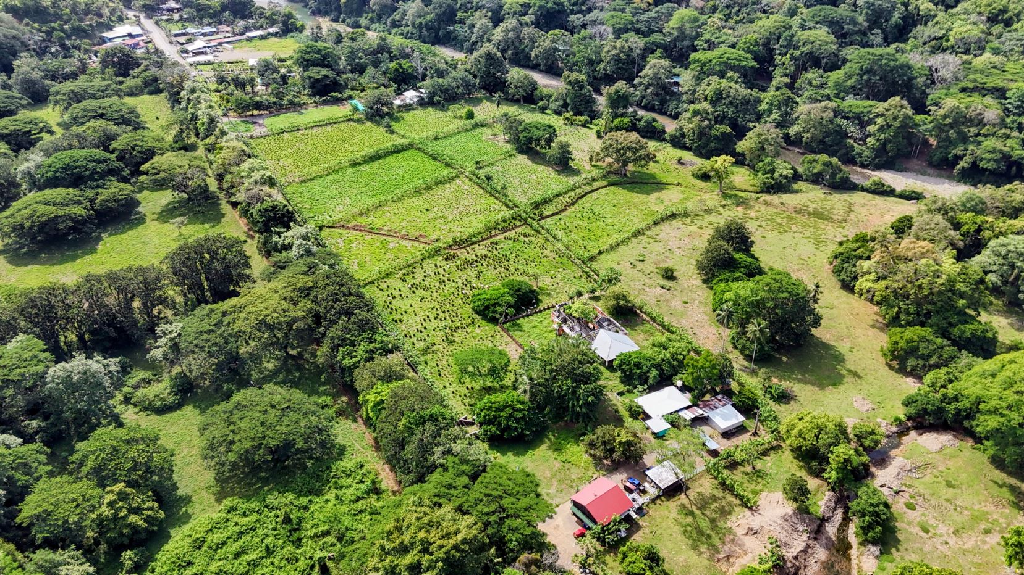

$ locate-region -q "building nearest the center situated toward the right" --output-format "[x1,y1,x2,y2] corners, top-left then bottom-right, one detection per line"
[592,333,641,368]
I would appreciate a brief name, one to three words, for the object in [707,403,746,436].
house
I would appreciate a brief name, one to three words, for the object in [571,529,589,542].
vehicle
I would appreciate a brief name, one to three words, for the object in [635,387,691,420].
house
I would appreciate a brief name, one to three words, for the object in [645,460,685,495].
shed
